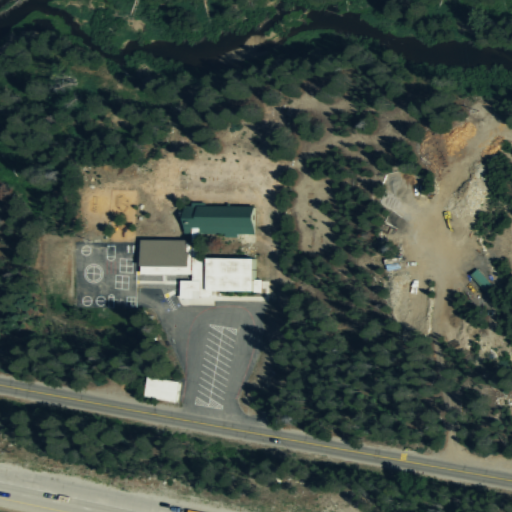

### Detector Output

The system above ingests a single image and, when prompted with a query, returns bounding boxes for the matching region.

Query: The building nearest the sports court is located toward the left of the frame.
[140,240,192,274]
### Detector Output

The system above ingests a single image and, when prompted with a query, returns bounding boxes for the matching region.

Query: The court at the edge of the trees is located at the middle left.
[76,242,136,308]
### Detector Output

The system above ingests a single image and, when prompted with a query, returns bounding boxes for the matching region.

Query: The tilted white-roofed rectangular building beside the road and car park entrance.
[144,378,182,402]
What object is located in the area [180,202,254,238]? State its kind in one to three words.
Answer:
building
